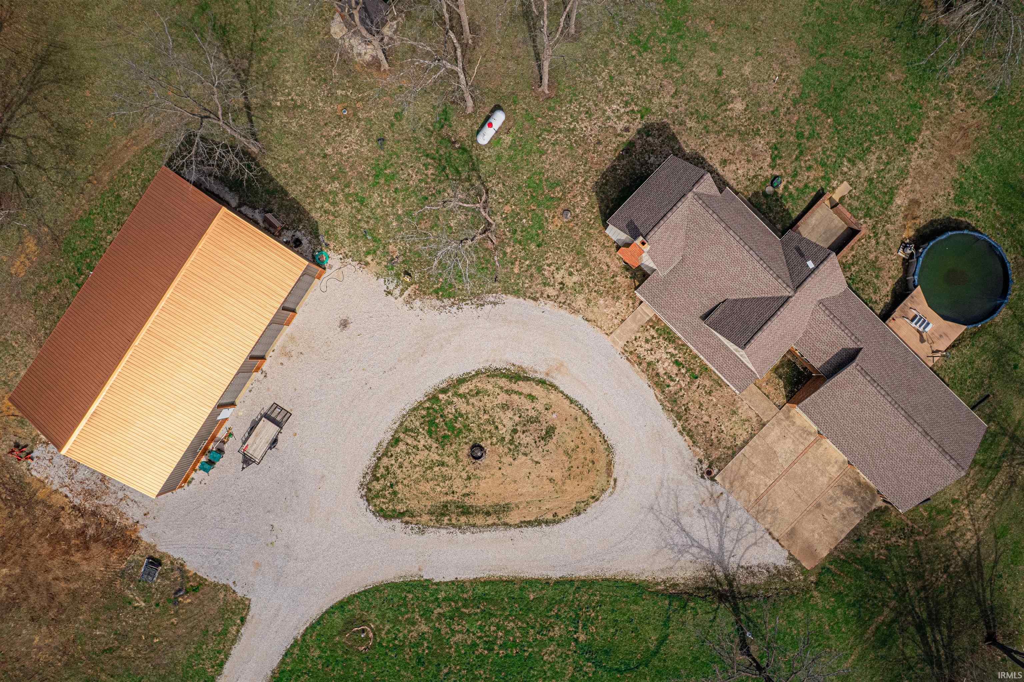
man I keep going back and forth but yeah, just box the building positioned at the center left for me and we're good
[6,165,327,498]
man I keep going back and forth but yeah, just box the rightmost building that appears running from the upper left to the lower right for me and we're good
[604,153,988,513]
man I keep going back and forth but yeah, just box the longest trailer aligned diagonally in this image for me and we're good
[237,403,290,473]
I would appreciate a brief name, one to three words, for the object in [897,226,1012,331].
swimming pool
